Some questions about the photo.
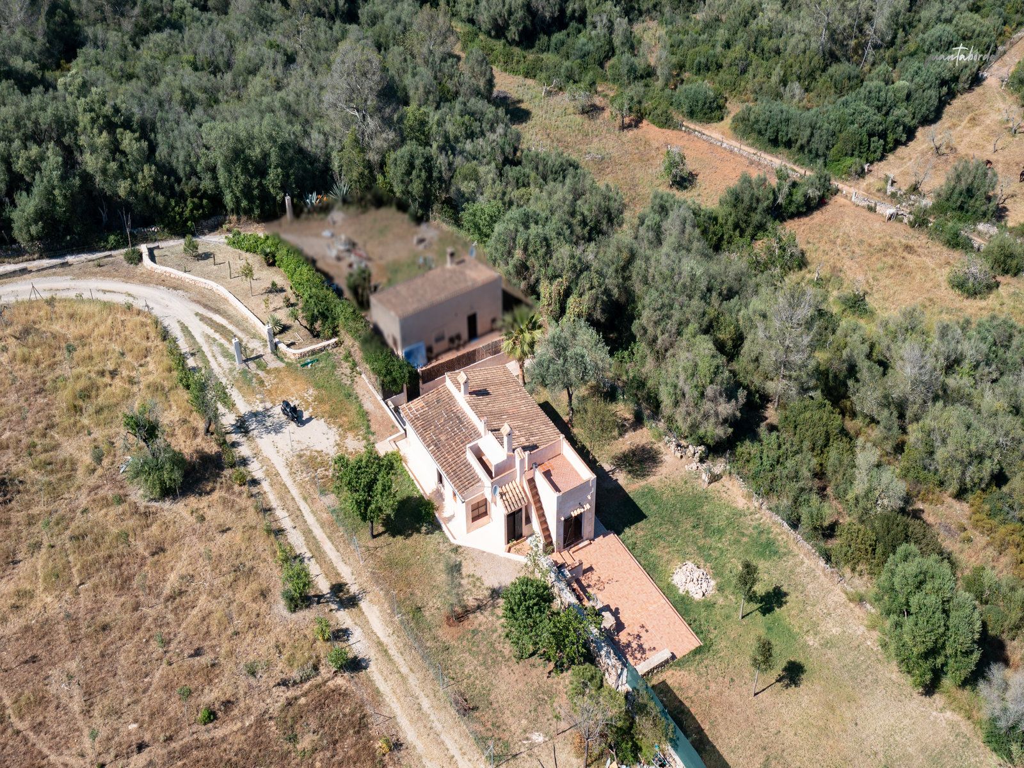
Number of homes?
two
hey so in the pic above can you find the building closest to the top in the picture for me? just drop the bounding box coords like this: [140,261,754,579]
[378,249,506,360]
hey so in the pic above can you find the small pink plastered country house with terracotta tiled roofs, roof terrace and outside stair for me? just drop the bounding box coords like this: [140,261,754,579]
[370,363,612,562]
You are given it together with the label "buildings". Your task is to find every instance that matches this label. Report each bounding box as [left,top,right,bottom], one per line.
[378,249,506,360]
[370,363,612,562]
